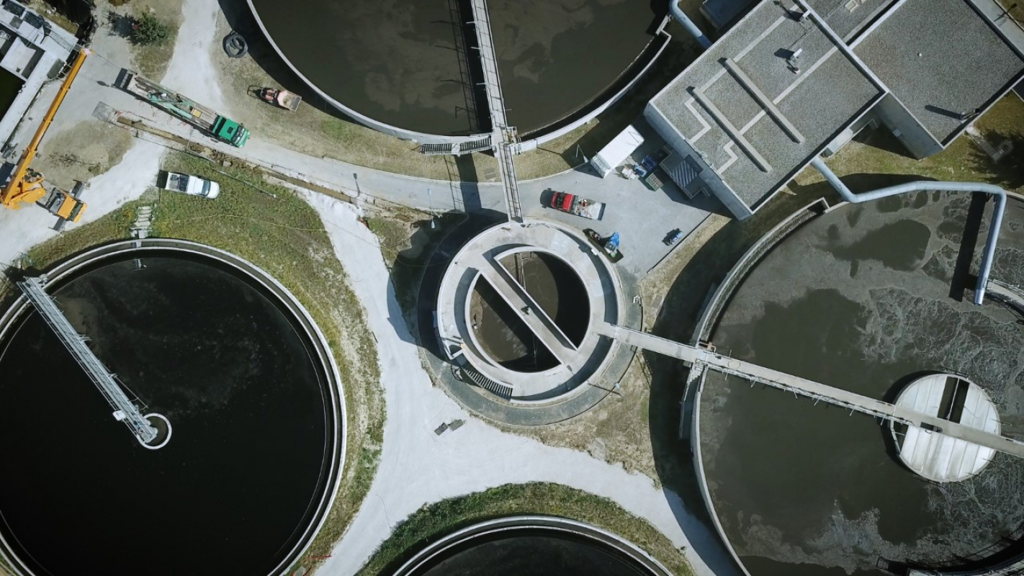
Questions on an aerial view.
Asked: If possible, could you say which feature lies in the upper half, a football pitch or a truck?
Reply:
truck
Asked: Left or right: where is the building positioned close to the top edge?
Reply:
right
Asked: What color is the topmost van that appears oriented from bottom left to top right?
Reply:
white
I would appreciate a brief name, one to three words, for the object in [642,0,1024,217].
building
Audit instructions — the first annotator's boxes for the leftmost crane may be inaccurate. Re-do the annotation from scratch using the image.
[0,48,126,236]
